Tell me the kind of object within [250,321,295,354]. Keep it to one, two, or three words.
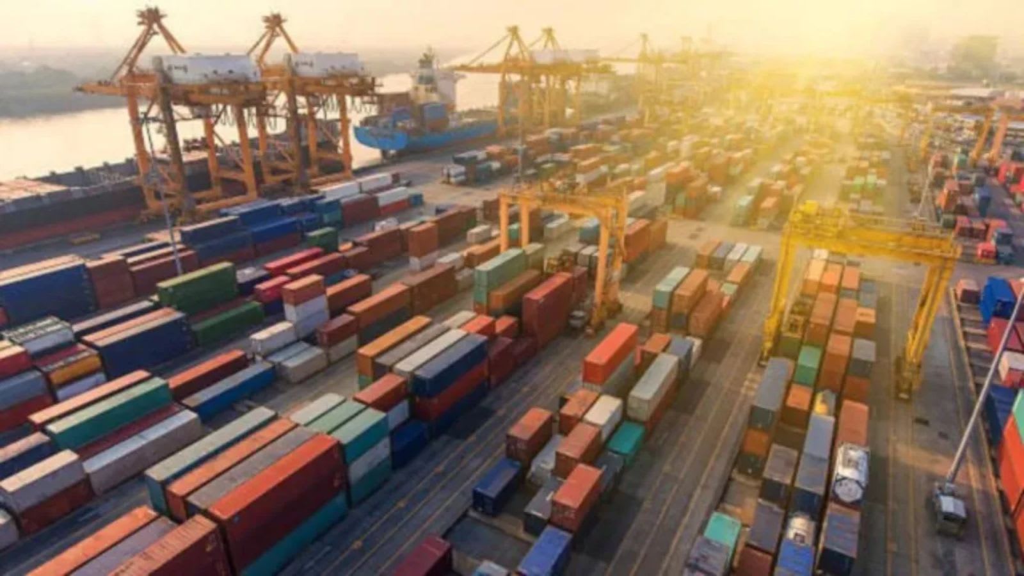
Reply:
shipping container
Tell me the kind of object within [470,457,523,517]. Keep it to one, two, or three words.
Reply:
shipping container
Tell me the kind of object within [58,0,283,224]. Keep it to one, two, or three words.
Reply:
container crane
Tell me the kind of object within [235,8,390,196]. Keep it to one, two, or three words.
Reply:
container crane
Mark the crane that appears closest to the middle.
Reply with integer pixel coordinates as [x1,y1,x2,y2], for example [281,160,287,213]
[498,180,630,332]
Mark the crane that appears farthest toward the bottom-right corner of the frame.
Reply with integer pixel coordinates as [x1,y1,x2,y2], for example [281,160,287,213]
[761,202,949,396]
